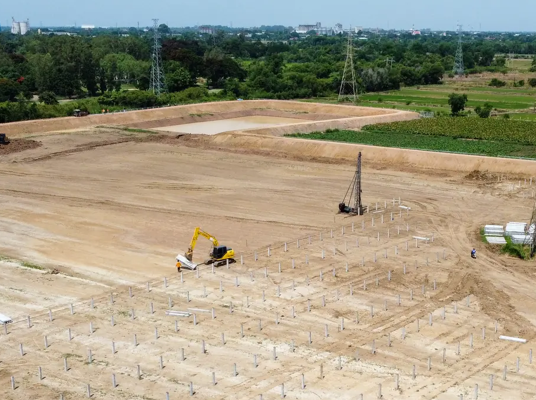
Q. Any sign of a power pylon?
Yes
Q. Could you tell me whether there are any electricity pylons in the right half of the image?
Yes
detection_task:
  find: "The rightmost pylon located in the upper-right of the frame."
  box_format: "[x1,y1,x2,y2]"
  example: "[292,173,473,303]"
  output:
[450,21,467,76]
